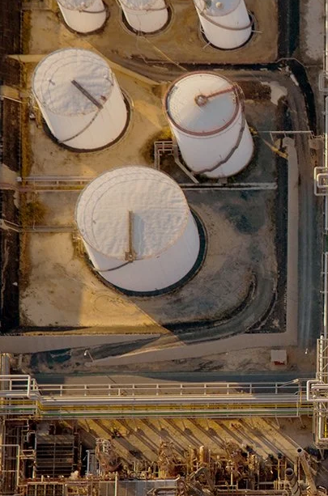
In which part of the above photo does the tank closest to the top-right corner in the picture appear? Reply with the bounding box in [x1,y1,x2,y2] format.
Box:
[190,0,260,56]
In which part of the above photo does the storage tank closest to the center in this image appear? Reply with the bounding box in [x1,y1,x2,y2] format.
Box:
[71,160,209,305]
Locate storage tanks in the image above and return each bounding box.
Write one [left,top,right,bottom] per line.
[71,160,209,305]
[55,0,114,40]
[158,65,257,180]
[115,0,177,43]
[31,45,135,157]
[190,0,260,56]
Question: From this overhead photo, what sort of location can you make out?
industrial area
